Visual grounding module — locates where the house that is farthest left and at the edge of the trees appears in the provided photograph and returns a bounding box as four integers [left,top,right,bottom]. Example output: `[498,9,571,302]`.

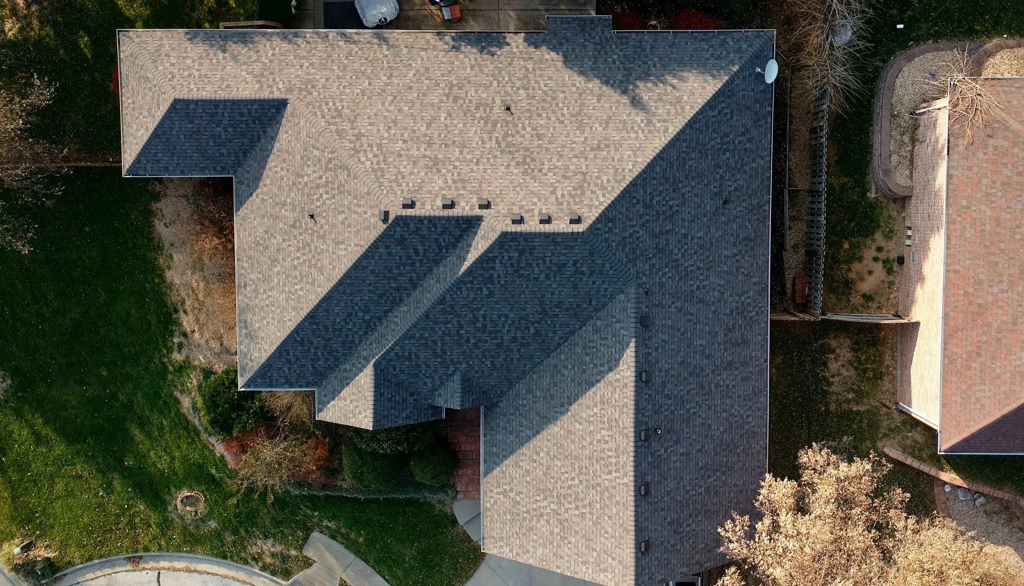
[117,16,776,586]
